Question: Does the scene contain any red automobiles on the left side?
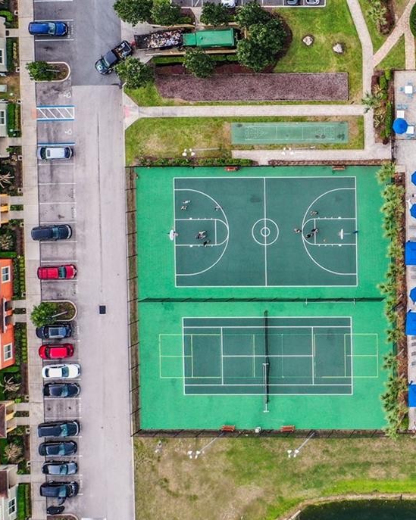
Yes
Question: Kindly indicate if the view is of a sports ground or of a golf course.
sports ground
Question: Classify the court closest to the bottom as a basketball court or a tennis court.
tennis court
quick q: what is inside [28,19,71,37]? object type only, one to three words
car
